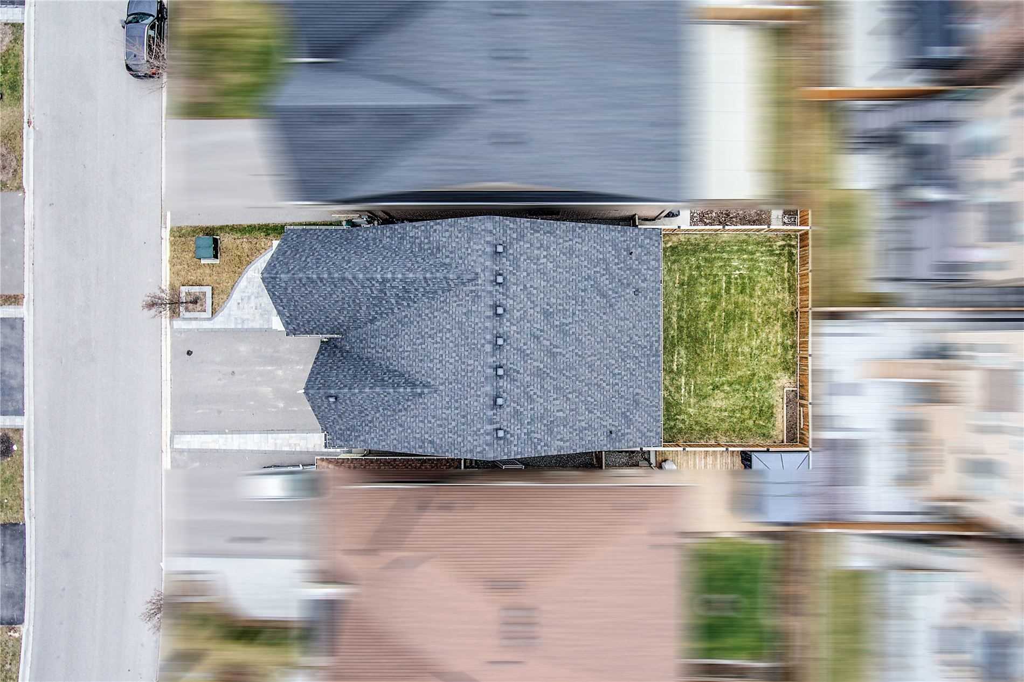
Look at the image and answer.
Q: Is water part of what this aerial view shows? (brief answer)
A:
No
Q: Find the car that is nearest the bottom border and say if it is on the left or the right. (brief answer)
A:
left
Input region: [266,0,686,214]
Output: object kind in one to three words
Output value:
house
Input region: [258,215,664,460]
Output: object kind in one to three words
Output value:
house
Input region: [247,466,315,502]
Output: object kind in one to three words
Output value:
car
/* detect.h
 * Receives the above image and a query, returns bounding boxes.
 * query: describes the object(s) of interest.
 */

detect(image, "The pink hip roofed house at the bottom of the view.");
[307,455,684,682]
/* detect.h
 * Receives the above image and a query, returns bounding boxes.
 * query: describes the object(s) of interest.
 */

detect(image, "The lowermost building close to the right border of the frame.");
[943,538,1024,682]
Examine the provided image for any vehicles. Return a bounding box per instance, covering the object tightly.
[124,0,167,82]
[247,466,315,502]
